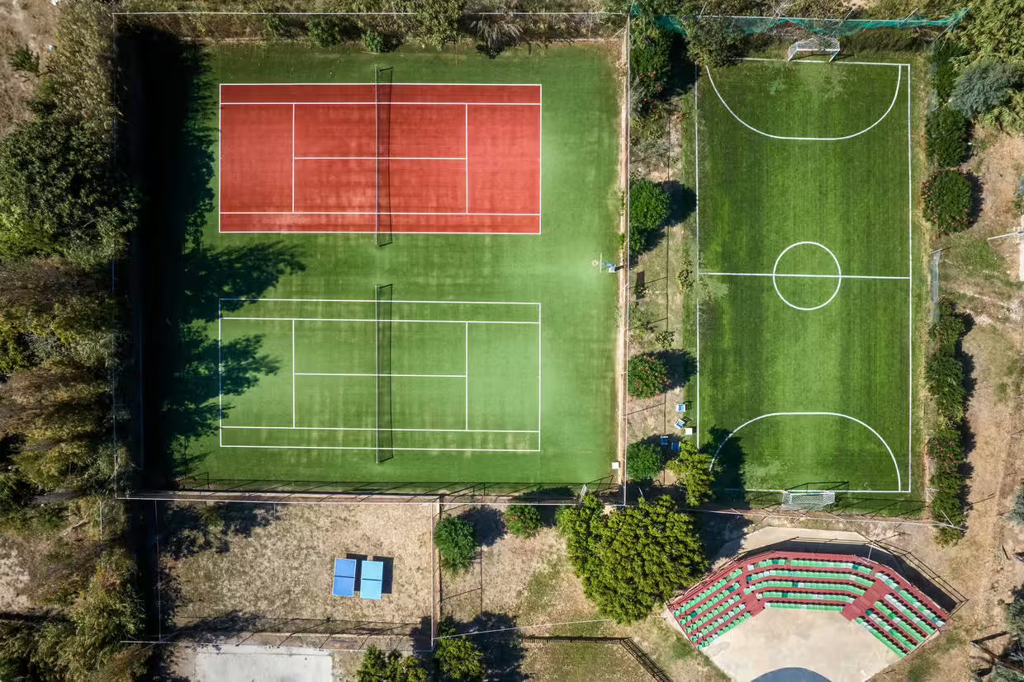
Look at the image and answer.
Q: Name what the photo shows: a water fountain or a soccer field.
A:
soccer field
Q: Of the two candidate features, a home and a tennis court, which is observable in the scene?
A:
tennis court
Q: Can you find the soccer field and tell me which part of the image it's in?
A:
right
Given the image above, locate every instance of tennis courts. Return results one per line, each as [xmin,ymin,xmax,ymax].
[218,298,543,452]
[219,83,542,233]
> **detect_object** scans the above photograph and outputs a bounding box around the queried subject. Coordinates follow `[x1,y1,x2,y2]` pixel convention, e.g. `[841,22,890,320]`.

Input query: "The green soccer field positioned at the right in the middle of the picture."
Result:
[682,46,927,518]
